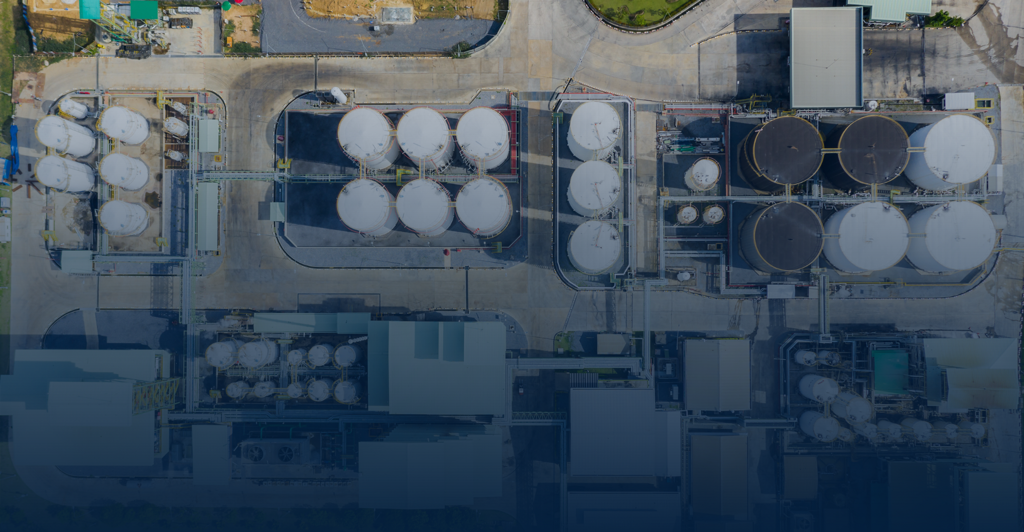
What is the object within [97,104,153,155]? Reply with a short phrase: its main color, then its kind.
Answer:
white storage tank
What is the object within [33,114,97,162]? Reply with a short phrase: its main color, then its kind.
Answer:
white storage tank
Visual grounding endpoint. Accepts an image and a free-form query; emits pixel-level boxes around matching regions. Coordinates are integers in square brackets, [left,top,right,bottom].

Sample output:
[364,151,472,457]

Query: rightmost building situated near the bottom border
[947,461,1021,532]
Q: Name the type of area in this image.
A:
industrial area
